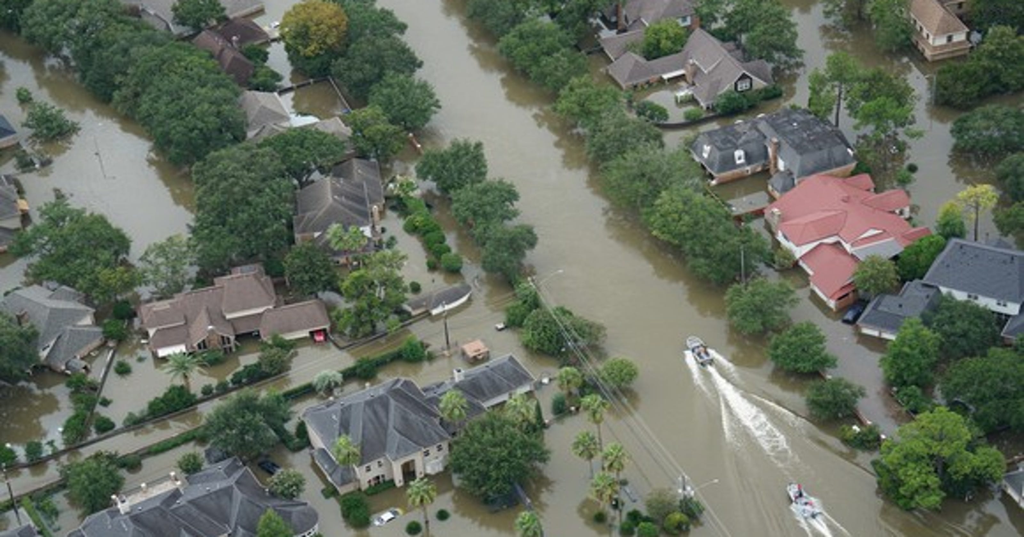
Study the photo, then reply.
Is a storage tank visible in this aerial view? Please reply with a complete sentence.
No, the frame has no storage tank in it.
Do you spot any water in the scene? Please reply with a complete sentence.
Yes, some water is visible.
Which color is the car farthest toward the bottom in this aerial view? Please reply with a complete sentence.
In this view, the car farthest toward the bottom is white.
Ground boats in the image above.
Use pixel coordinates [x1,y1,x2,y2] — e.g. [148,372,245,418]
[786,482,825,520]
[687,336,720,370]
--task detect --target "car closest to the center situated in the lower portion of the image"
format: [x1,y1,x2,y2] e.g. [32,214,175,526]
[493,322,512,334]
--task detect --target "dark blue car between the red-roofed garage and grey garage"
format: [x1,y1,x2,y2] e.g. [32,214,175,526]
[841,302,867,323]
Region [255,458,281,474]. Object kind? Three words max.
car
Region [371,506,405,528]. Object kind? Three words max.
car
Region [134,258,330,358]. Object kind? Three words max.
house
